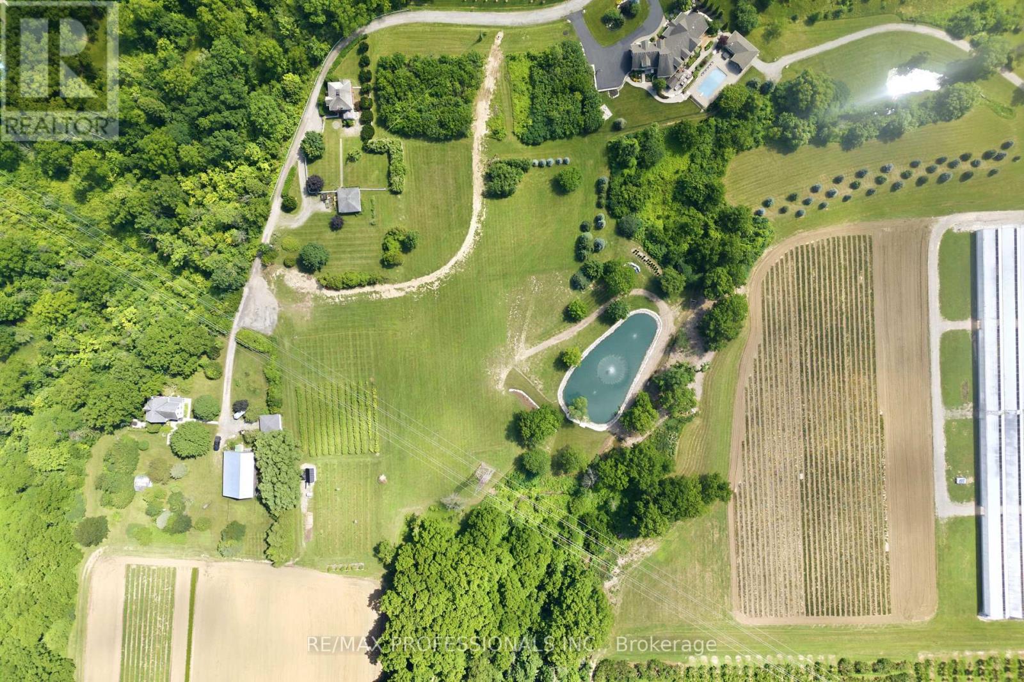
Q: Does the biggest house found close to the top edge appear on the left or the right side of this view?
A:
right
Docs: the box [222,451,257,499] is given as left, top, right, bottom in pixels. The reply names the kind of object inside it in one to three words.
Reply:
barn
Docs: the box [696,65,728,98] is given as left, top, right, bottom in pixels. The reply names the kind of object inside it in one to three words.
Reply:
swimming pool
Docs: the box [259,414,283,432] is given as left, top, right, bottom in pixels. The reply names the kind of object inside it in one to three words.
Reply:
shed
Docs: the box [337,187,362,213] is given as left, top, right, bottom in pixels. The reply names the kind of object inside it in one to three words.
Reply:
building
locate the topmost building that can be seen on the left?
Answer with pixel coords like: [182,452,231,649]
[325,81,359,120]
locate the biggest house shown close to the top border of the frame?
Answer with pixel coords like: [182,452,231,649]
[630,9,709,81]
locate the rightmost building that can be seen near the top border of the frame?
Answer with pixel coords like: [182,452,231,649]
[724,30,760,72]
